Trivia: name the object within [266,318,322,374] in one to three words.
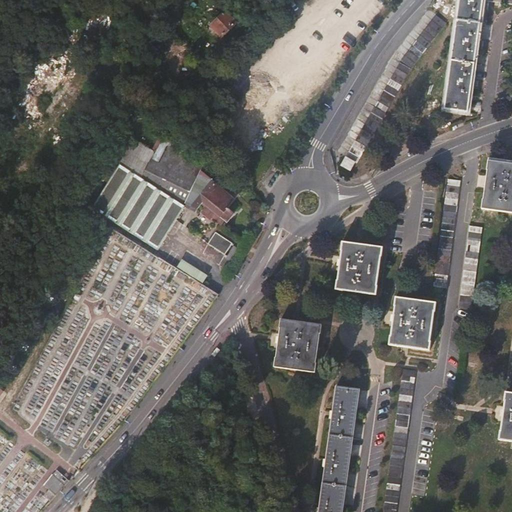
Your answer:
building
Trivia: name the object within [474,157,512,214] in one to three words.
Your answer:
building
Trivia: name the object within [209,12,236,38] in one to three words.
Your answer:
house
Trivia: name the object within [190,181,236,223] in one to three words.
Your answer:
house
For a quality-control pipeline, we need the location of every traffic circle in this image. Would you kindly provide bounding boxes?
[272,147,369,253]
